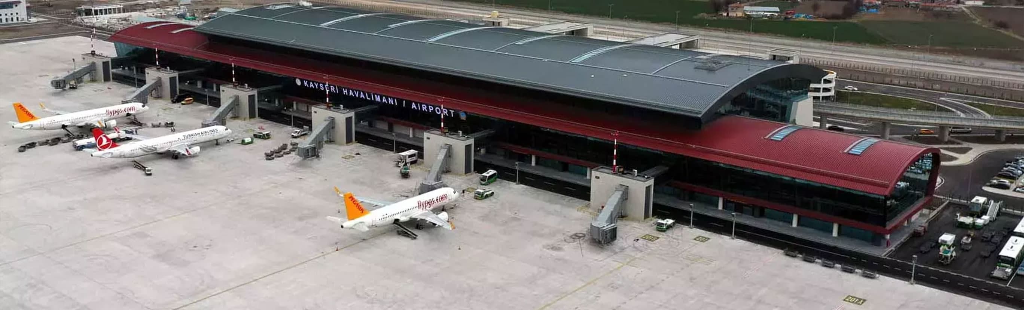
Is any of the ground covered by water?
No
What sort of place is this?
airport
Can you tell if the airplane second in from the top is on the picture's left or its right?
left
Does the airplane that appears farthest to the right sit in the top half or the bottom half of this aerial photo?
bottom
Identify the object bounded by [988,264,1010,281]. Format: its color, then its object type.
gray work vehicle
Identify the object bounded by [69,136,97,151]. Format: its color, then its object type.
white vehicle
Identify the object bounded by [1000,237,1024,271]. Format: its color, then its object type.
white bus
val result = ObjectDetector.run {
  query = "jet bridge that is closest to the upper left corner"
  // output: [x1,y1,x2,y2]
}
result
[48,58,97,93]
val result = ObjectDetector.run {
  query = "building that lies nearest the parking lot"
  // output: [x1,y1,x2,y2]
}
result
[109,0,942,248]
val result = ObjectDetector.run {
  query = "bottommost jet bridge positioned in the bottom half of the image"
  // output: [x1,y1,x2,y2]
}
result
[585,179,632,249]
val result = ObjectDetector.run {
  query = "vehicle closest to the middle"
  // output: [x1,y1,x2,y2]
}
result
[478,168,500,184]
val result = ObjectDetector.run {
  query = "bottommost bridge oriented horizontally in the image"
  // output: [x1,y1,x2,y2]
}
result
[812,103,1024,141]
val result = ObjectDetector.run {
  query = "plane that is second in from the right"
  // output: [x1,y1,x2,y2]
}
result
[83,126,232,160]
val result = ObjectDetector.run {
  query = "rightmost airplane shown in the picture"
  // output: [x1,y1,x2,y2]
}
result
[326,188,459,233]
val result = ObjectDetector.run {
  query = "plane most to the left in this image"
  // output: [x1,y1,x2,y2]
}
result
[6,103,149,132]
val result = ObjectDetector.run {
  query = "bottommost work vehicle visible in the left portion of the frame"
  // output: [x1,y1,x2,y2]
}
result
[388,220,414,246]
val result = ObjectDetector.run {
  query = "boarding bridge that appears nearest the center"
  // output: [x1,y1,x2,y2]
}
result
[414,139,454,195]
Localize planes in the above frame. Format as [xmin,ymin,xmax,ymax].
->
[326,188,459,233]
[6,103,149,132]
[83,126,232,160]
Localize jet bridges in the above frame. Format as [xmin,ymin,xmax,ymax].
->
[585,179,632,249]
[119,73,163,106]
[294,112,337,160]
[414,139,454,195]
[48,58,97,93]
[195,90,241,129]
